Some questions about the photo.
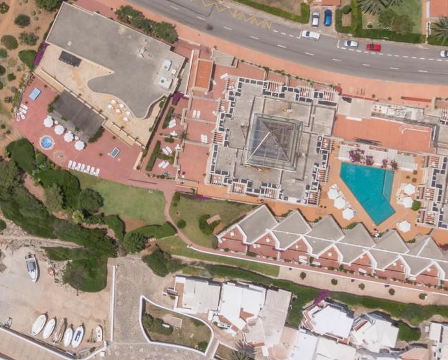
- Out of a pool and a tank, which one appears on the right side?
pool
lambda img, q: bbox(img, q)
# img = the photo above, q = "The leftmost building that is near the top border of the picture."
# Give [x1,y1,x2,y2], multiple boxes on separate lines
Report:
[47,2,185,117]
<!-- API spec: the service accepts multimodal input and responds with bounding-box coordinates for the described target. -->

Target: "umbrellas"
[64,132,74,142]
[403,196,413,208]
[55,125,65,135]
[43,117,53,127]
[399,221,410,232]
[334,198,345,209]
[75,140,85,150]
[404,184,414,194]
[327,189,339,199]
[342,209,354,219]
